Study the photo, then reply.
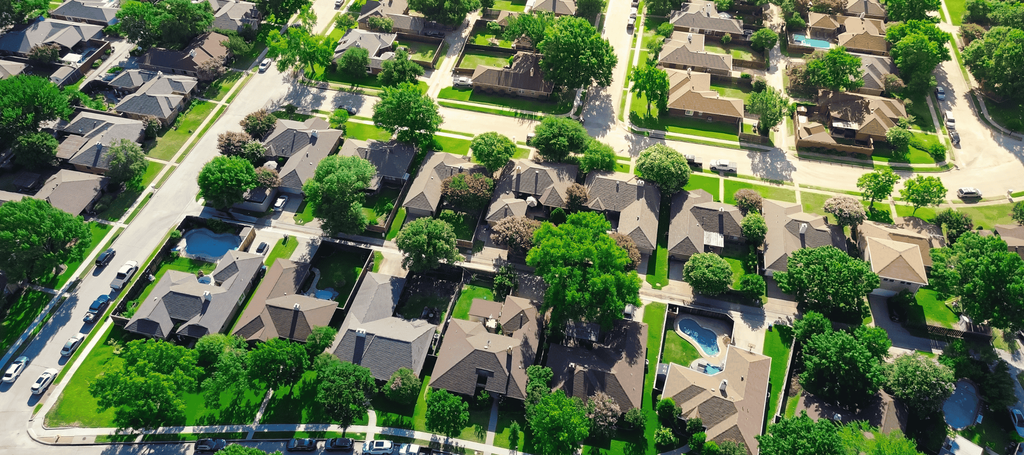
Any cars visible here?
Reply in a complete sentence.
Yes, there is a car in the image.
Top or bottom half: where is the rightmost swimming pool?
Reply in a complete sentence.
The bottom half of the photo is where the rightmost swimming pool is.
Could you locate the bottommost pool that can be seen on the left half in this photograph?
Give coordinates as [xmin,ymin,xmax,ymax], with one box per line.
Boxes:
[314,288,335,301]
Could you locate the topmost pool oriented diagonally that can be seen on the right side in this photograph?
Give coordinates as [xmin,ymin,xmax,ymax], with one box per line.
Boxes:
[675,315,723,359]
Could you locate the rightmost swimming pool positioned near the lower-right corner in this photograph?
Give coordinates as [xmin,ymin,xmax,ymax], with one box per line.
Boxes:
[940,376,983,432]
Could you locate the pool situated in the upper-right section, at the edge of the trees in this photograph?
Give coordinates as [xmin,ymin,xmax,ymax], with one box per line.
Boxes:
[793,34,831,48]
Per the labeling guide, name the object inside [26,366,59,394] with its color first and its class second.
white car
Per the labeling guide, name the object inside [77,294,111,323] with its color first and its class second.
blue truck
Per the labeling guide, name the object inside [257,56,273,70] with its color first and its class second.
white car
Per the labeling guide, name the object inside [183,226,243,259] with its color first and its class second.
blue swimming pool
